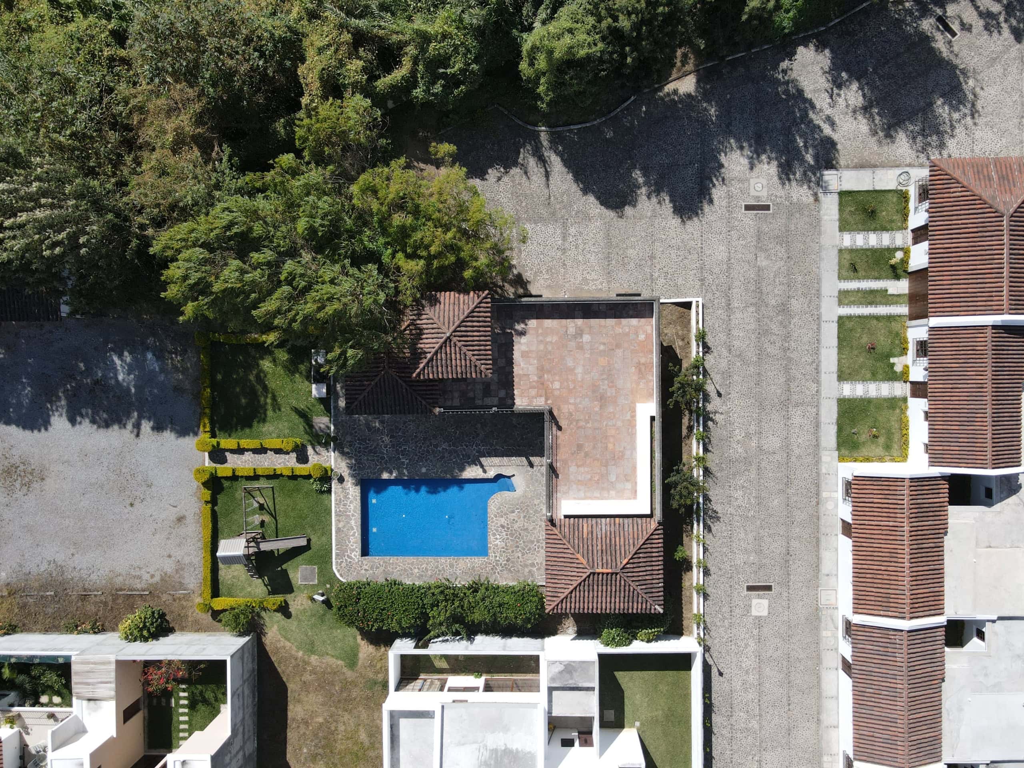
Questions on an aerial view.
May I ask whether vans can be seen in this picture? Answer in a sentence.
No, no van is visible in the view.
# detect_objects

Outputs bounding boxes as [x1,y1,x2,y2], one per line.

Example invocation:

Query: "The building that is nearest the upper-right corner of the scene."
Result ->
[903,153,1024,332]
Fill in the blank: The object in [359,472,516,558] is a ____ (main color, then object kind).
blue swimming pool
